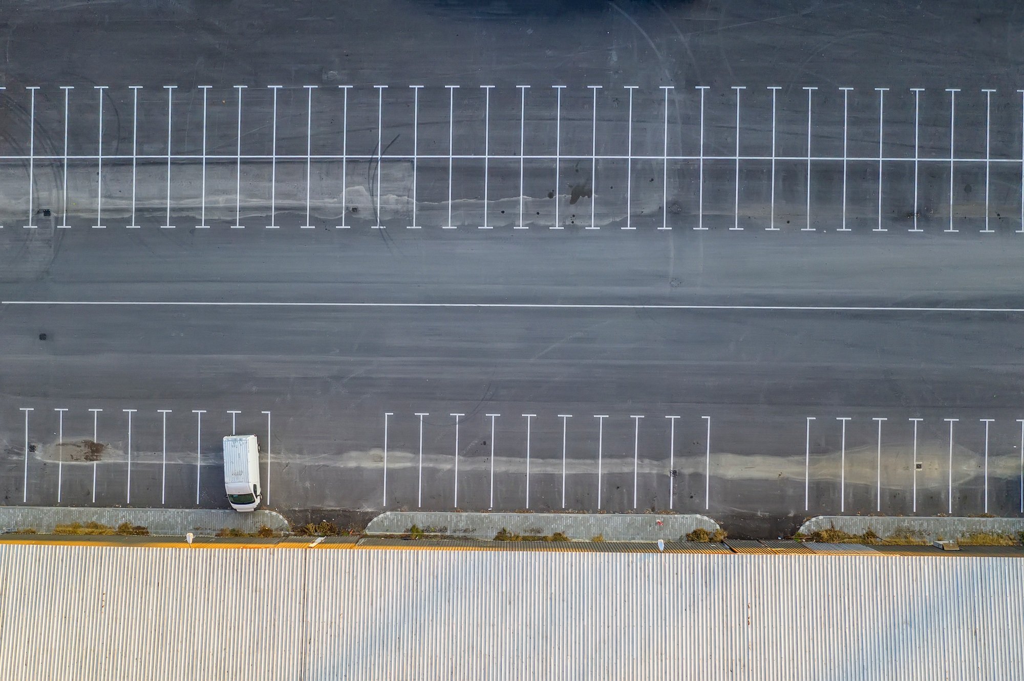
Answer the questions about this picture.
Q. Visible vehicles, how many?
1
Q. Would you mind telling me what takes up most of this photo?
paved ground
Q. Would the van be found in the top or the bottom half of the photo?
bottom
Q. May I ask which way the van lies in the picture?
up and down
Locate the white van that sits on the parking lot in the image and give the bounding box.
[223,434,262,513]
